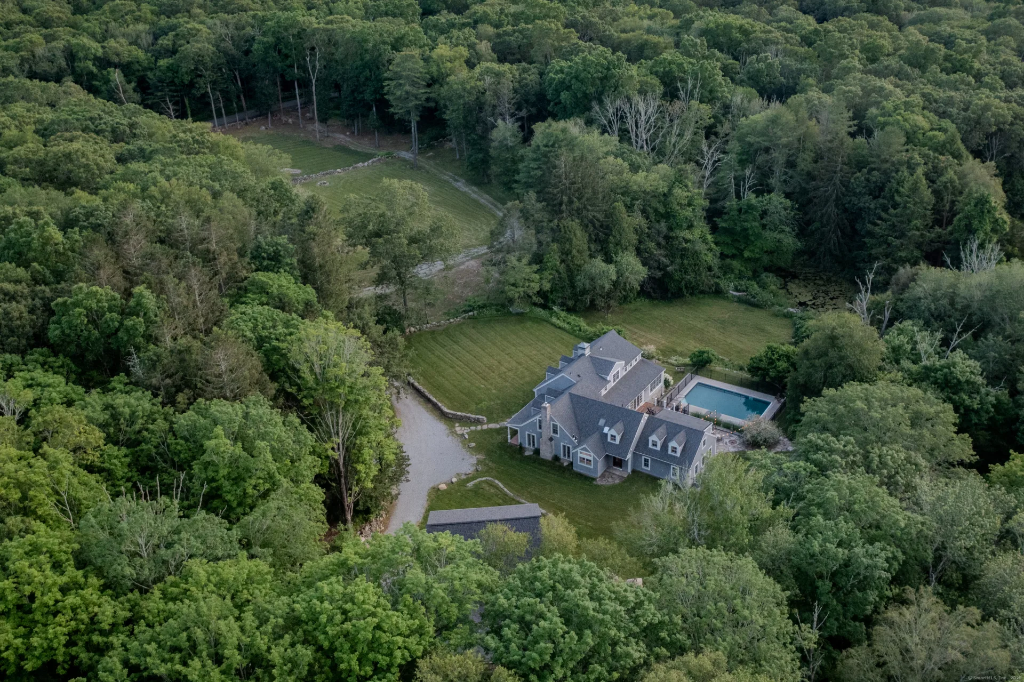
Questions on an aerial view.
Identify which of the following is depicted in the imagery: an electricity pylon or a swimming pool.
swimming pool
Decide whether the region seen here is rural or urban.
rural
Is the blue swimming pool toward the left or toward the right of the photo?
right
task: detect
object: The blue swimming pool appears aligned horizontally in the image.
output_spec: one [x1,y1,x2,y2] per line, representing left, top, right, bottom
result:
[670,374,785,425]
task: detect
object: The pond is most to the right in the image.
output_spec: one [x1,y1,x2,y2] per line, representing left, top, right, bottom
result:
[770,260,894,325]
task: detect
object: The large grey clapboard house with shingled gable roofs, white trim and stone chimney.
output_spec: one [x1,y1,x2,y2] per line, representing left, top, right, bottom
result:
[505,331,716,486]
